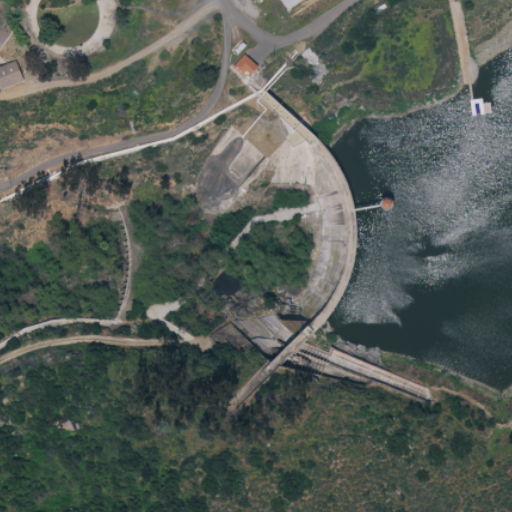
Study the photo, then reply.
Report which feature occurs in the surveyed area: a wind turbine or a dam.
dam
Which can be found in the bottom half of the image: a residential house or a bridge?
bridge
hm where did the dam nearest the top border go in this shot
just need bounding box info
[262,90,358,338]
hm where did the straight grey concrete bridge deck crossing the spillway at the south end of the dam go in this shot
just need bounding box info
[228,326,308,410]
